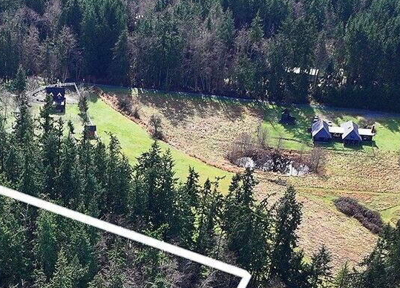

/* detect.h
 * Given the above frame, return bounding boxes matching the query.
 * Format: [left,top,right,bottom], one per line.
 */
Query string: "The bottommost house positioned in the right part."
[307,121,385,145]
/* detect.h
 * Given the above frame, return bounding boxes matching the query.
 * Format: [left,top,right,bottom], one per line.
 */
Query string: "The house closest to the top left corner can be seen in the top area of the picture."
[43,84,66,109]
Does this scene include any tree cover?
Yes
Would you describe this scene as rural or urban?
rural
